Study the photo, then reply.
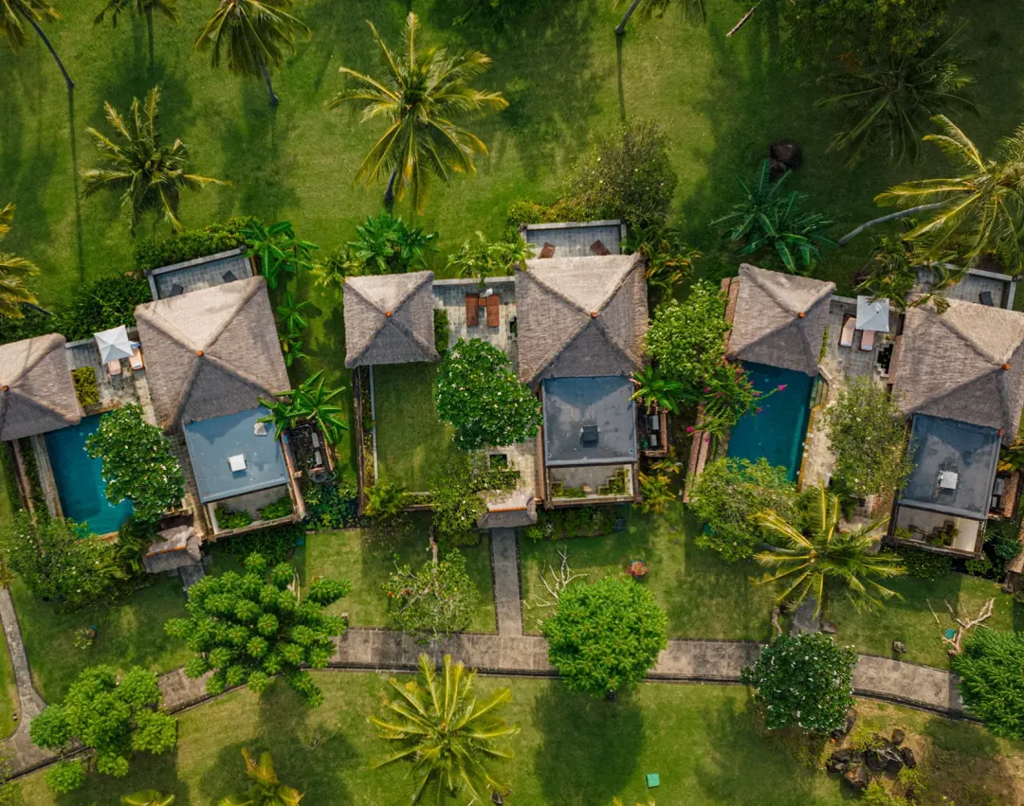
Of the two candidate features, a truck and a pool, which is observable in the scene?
pool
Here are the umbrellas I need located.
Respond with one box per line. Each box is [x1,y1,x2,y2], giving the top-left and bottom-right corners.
[853,295,889,332]
[94,325,134,364]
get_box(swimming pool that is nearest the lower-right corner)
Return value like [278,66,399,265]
[719,360,831,491]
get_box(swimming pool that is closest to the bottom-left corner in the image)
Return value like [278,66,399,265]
[44,410,130,541]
